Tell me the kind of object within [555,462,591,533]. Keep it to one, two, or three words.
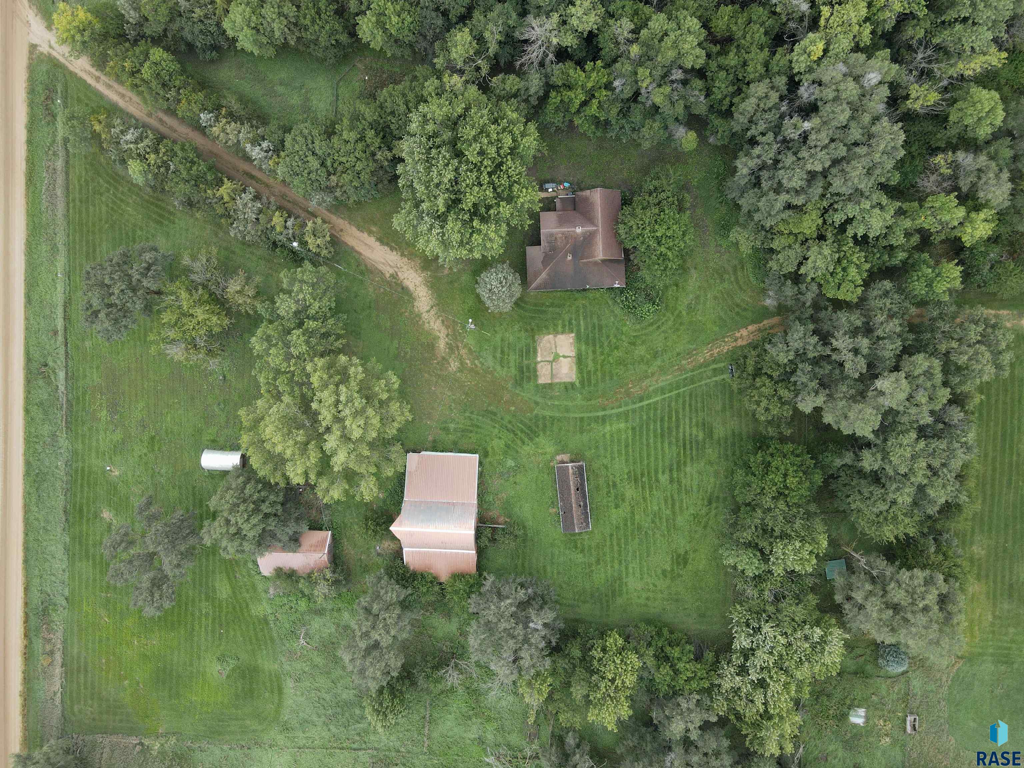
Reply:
shed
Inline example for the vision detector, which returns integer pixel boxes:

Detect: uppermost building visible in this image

[526,188,625,292]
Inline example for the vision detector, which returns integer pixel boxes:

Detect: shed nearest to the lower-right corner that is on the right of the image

[828,561,850,583]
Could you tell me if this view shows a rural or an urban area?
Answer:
rural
